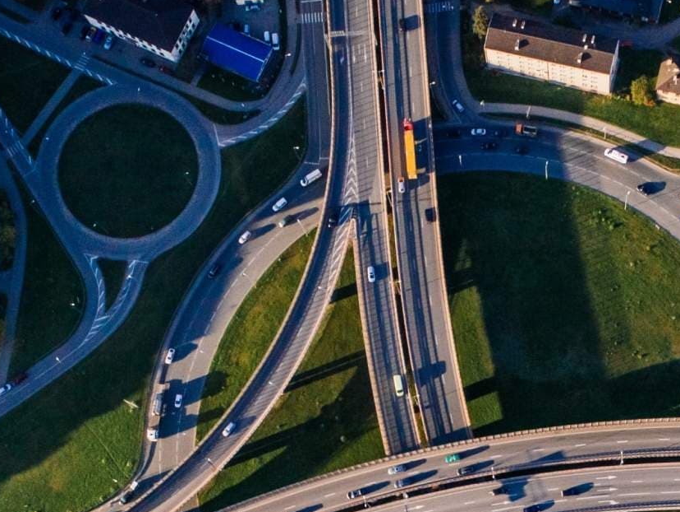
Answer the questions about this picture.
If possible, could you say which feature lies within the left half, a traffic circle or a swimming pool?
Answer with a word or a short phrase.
traffic circle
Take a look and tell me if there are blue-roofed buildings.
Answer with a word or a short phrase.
Yes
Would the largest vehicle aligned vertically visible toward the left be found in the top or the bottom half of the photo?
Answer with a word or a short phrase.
bottom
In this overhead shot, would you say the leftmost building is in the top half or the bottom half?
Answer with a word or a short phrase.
top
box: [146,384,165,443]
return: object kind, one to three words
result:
vehicle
